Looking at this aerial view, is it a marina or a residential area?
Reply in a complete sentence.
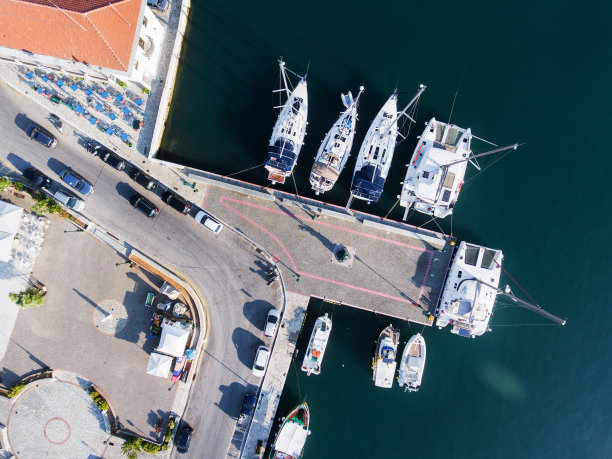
This image shows a marina.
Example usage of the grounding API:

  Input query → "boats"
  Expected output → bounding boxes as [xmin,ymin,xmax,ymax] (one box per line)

[341,92,353,109]
[370,326,398,394]
[302,318,331,380]
[436,241,568,339]
[270,400,311,459]
[415,202,437,217]
[311,85,365,198]
[399,117,521,216]
[262,59,311,186]
[397,335,425,394]
[349,83,428,204]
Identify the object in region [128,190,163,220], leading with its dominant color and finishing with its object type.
black car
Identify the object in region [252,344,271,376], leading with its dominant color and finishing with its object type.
white car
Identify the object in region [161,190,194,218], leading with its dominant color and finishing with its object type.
black car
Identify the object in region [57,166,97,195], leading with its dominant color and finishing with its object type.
blue car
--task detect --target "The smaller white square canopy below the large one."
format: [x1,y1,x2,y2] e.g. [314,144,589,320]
[146,347,176,378]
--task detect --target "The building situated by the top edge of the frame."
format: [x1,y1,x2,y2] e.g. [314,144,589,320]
[0,0,165,94]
